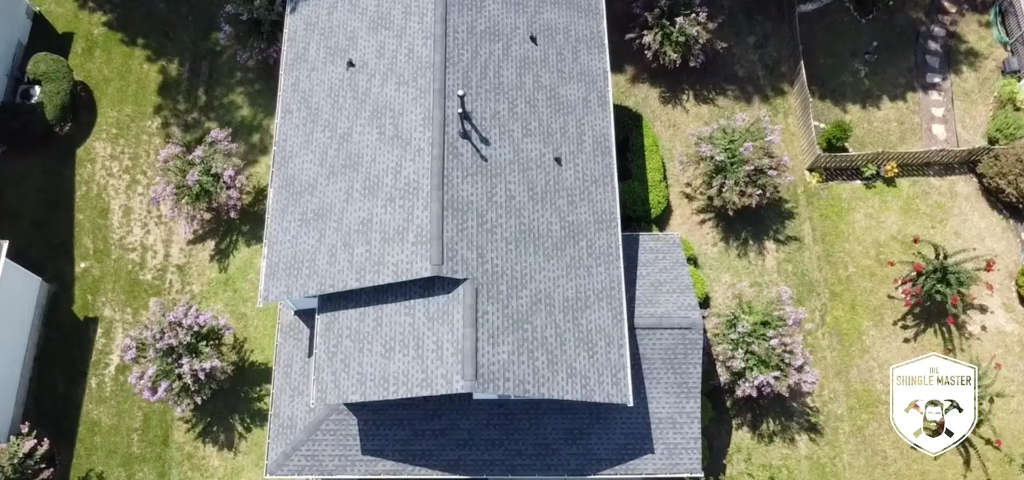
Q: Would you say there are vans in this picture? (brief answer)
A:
No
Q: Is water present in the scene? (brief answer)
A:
No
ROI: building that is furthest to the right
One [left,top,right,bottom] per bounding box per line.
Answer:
[255,0,704,480]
